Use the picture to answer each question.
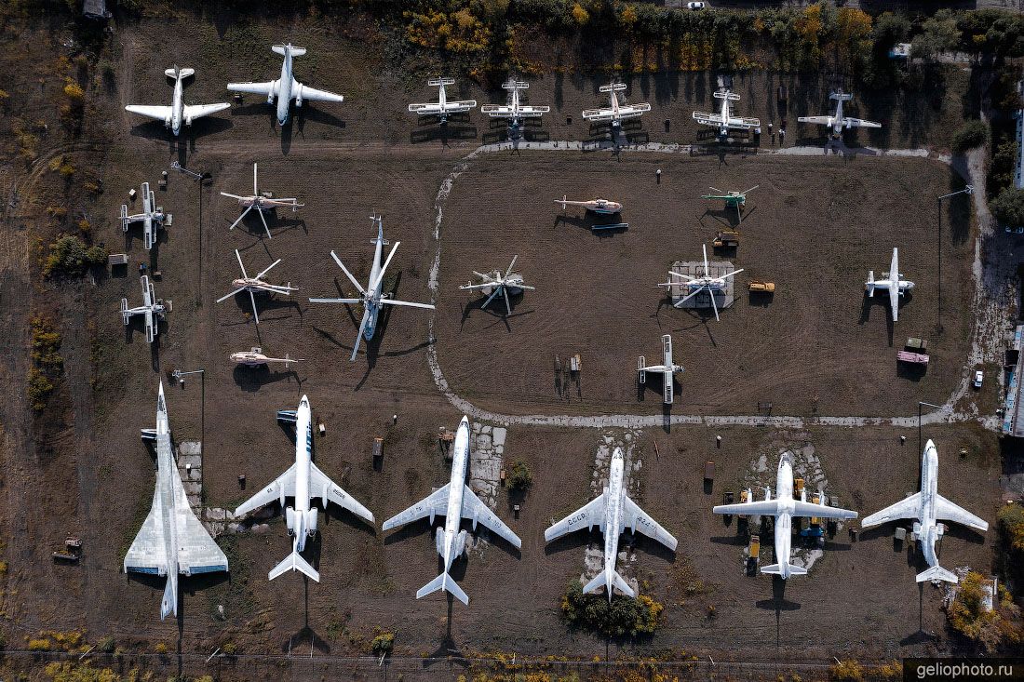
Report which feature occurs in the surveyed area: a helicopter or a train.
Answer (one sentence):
The one in the frame is a helicopter.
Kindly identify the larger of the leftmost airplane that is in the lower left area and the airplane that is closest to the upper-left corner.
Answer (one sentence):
It is the leftmost airplane that is in the lower left area that is larger, not the airplane that is closest to the upper-left corner.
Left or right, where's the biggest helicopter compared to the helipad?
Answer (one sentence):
The biggest helicopter can be seen on the left of the helipad.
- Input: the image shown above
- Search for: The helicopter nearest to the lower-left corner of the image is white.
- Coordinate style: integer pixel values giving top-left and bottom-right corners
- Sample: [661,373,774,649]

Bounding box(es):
[232,350,298,366]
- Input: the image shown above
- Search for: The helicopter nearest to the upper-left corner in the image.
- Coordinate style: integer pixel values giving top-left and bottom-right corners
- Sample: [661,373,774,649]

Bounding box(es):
[220,161,304,238]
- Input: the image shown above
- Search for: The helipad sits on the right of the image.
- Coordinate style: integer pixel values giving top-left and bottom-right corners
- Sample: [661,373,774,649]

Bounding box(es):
[672,262,734,308]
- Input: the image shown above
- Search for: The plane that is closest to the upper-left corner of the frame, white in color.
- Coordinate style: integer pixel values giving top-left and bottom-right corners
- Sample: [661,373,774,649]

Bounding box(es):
[124,66,229,137]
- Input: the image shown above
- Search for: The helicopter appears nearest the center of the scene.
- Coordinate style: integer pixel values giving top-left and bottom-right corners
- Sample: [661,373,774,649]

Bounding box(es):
[456,254,535,315]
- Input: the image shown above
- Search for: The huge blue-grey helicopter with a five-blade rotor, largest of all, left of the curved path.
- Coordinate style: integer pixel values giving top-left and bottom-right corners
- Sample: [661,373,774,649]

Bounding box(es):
[306,208,436,362]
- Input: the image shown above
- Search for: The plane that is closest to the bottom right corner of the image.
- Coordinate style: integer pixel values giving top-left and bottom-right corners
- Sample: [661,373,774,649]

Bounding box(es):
[862,439,990,584]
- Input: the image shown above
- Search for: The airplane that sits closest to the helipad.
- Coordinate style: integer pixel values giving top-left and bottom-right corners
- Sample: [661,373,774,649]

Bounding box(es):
[639,336,683,404]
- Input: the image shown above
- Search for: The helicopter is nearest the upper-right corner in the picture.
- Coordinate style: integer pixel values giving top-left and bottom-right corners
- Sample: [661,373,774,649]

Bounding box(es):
[700,187,761,225]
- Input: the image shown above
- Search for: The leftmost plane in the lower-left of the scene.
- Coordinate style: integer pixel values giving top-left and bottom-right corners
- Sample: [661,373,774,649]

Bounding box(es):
[123,376,229,624]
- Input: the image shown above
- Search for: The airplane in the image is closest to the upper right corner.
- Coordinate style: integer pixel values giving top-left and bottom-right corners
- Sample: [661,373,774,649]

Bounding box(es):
[797,89,882,137]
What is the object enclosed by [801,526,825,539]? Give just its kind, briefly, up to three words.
vehicle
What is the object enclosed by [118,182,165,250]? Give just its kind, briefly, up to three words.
airplane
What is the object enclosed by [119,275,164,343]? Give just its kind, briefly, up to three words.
airplane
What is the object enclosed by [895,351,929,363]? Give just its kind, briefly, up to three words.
vehicle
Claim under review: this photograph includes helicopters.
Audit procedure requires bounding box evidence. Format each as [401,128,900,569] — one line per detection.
[656,244,745,322]
[232,350,298,366]
[552,196,622,214]
[217,248,299,323]
[700,187,761,225]
[306,208,436,362]
[456,254,535,315]
[220,161,304,238]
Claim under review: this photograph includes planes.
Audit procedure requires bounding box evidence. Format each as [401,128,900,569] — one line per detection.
[123,376,229,624]
[118,182,165,250]
[228,39,345,127]
[866,248,914,321]
[407,79,475,122]
[862,439,990,584]
[481,80,549,124]
[119,275,164,343]
[124,66,229,137]
[545,447,675,602]
[582,83,650,127]
[693,90,761,135]
[384,416,522,604]
[639,336,683,404]
[236,395,374,581]
[797,89,882,137]
[713,449,856,582]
